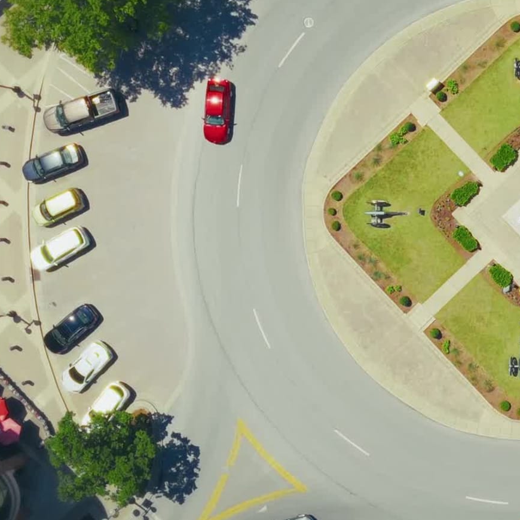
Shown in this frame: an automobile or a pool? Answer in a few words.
automobile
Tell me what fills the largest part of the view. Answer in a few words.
paved ground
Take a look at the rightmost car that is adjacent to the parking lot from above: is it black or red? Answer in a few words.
red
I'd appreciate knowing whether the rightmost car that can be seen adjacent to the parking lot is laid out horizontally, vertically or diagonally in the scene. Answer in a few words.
vertically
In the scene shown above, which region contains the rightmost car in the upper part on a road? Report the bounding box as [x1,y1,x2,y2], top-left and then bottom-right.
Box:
[200,79,234,145]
